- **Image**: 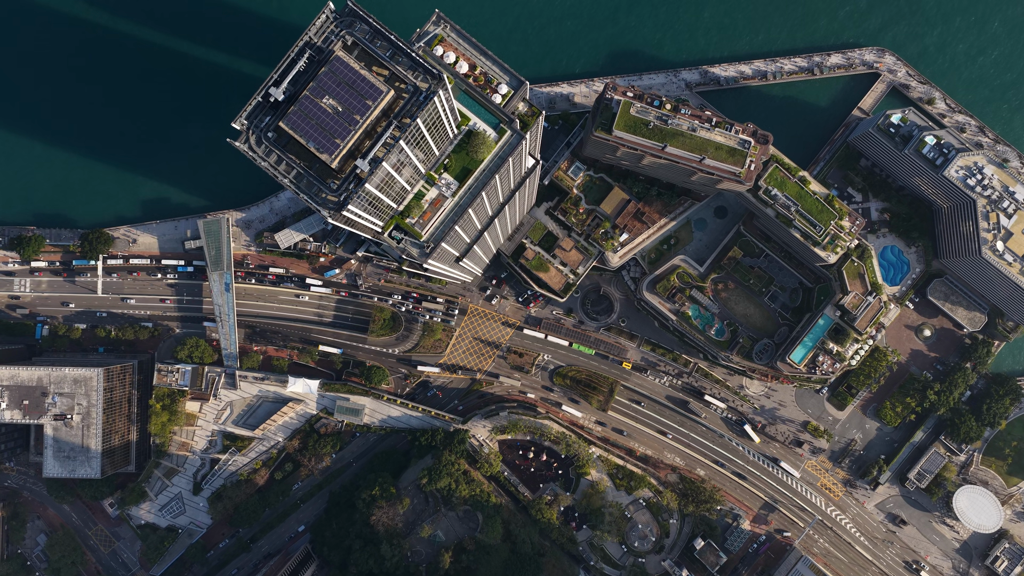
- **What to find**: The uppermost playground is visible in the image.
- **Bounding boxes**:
[496,438,576,496]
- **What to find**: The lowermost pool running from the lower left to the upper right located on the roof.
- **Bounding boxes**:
[784,311,837,367]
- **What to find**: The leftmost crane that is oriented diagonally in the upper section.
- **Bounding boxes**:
[271,51,314,105]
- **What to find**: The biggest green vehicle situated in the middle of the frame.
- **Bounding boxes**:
[571,343,597,355]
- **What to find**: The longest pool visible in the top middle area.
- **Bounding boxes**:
[449,82,505,133]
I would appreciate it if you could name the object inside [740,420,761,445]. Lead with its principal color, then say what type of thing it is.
white bus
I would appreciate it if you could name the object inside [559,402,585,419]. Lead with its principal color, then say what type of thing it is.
white vehicle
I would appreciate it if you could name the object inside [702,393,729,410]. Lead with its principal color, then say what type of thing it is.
white vehicle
